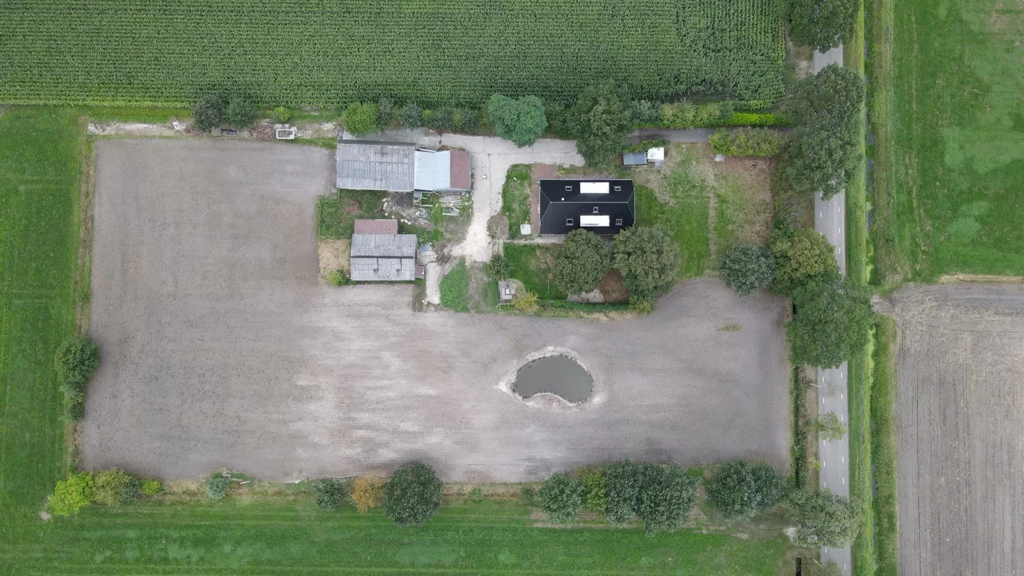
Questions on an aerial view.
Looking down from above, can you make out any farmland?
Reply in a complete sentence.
Yes, there's farmland in this view.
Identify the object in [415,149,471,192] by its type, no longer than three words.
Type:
shed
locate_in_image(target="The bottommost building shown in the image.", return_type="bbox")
[348,218,426,281]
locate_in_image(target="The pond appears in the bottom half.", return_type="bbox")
[512,355,593,404]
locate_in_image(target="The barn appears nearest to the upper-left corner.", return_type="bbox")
[334,139,416,192]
